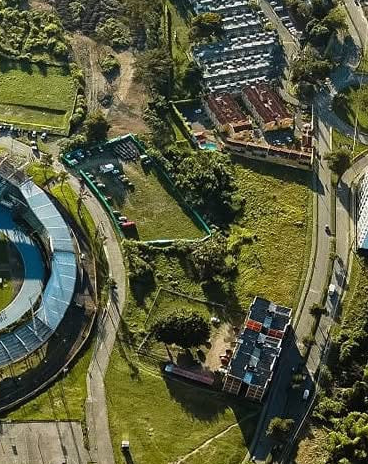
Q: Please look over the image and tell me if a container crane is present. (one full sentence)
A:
No, there appears to be no container crane in this shot.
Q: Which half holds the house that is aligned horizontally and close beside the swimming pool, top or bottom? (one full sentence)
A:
The house that is aligned horizontally and close beside the swimming pool is in the top half of the image.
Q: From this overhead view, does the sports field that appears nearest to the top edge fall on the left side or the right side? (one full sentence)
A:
It is on the left.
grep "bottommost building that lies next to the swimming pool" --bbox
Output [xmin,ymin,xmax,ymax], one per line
[220,139,312,171]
